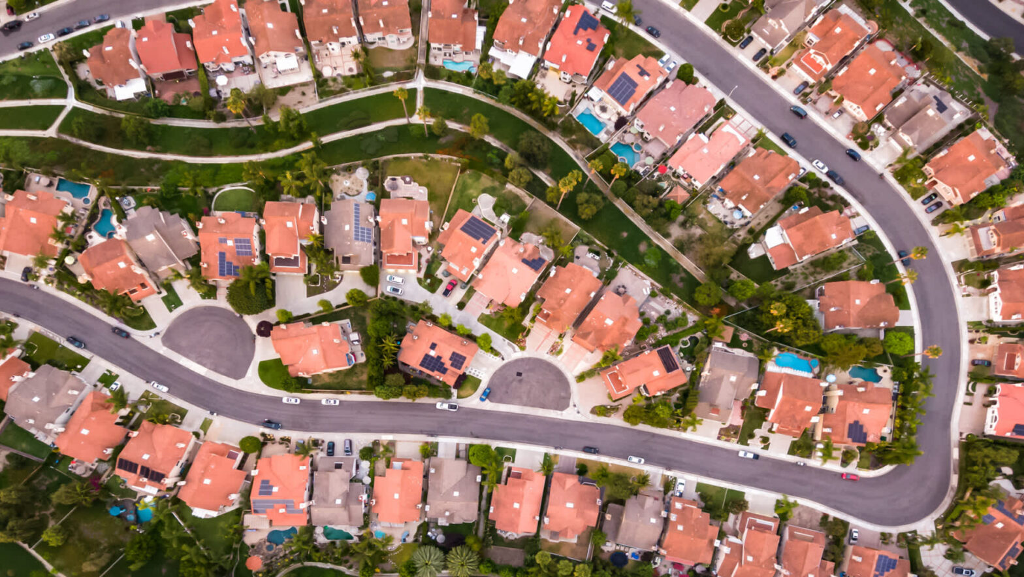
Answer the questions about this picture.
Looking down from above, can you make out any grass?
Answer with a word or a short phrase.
Yes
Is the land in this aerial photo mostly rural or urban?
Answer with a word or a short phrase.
urban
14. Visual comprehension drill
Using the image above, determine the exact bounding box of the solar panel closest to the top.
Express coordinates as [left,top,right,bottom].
[574,11,599,34]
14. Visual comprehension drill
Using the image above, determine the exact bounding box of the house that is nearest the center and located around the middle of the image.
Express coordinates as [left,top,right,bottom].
[474,235,549,313]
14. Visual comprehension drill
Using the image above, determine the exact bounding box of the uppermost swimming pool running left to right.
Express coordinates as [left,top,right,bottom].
[443,59,478,75]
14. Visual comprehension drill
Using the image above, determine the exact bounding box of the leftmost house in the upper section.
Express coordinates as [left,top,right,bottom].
[0,190,76,258]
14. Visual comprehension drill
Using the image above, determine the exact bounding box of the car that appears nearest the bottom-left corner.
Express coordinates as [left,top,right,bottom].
[108,378,122,394]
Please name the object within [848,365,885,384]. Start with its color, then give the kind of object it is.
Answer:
blue swimming pool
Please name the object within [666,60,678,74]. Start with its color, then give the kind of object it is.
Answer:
white vehicle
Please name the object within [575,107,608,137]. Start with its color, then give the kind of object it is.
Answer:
blue swimming pool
